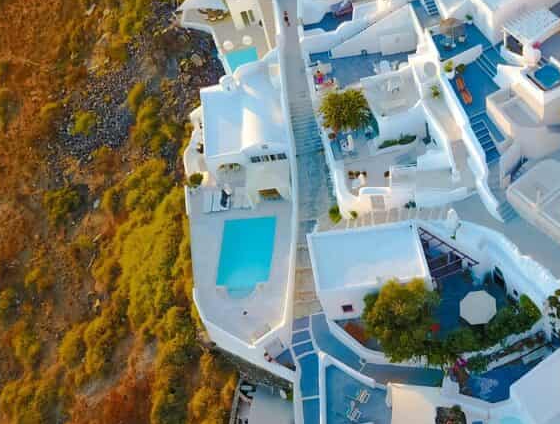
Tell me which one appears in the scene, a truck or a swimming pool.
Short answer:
swimming pool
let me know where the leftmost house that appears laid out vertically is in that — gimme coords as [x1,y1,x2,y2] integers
[200,87,247,174]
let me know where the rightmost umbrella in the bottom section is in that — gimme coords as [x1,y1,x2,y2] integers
[455,289,502,333]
